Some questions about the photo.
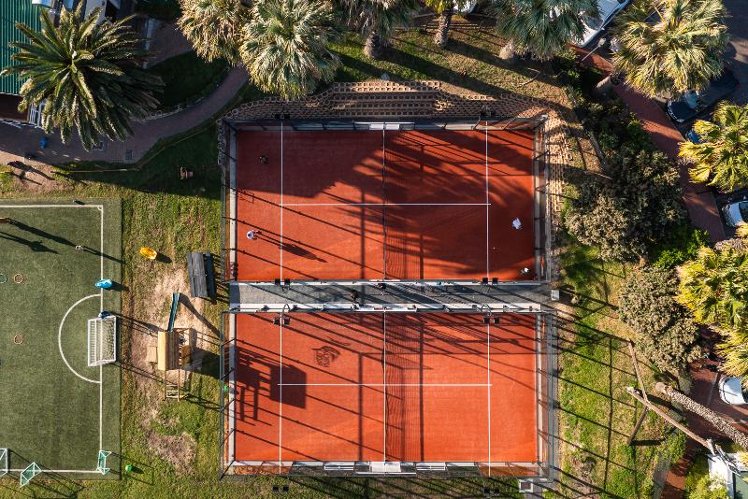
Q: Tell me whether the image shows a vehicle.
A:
Yes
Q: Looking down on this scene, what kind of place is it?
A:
sports ground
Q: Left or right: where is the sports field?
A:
left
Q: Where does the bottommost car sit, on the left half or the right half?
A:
right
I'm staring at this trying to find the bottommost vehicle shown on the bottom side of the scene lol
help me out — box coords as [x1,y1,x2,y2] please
[719,376,748,410]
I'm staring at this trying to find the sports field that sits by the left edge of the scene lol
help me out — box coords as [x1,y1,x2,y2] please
[0,199,123,480]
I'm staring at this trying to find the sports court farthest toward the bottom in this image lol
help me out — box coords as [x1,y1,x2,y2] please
[224,298,549,476]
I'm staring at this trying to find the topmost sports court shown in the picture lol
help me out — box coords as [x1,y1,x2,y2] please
[223,118,546,293]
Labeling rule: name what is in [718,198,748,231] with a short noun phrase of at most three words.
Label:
car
